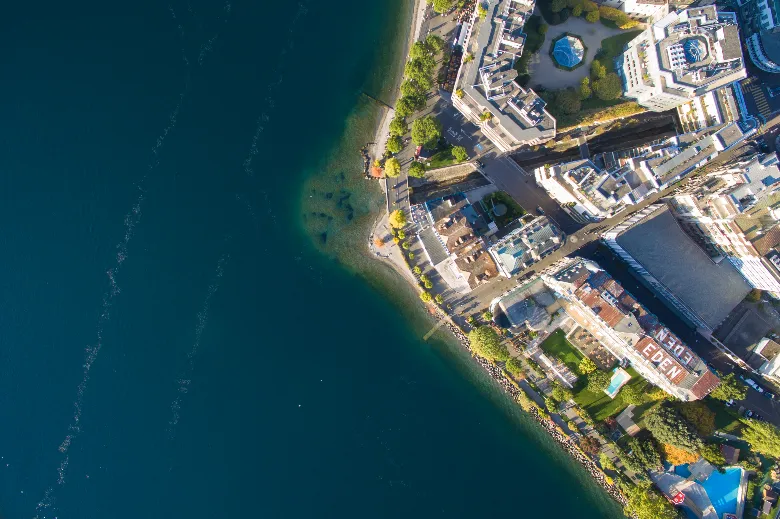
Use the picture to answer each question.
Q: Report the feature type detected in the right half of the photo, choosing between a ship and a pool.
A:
pool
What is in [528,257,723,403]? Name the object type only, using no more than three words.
building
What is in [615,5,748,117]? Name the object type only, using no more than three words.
building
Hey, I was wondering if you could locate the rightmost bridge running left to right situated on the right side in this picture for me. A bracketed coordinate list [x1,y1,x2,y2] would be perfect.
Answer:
[470,157,529,184]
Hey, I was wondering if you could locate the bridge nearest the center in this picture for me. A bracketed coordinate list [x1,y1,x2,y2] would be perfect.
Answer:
[386,177,412,216]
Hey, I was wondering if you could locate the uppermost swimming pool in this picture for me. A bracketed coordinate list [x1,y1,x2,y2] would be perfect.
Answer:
[605,367,632,399]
